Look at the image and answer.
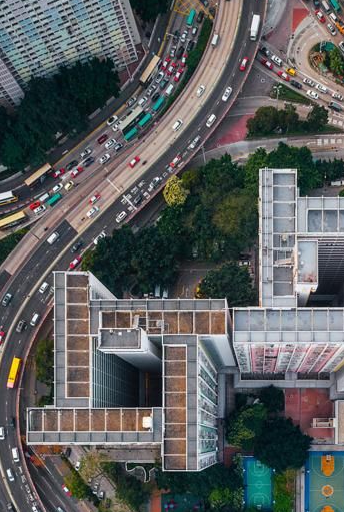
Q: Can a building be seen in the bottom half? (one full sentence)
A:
Yes, a building is visible in the bottom half.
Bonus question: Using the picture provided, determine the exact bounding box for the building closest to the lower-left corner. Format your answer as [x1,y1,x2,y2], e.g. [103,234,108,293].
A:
[26,270,236,471]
